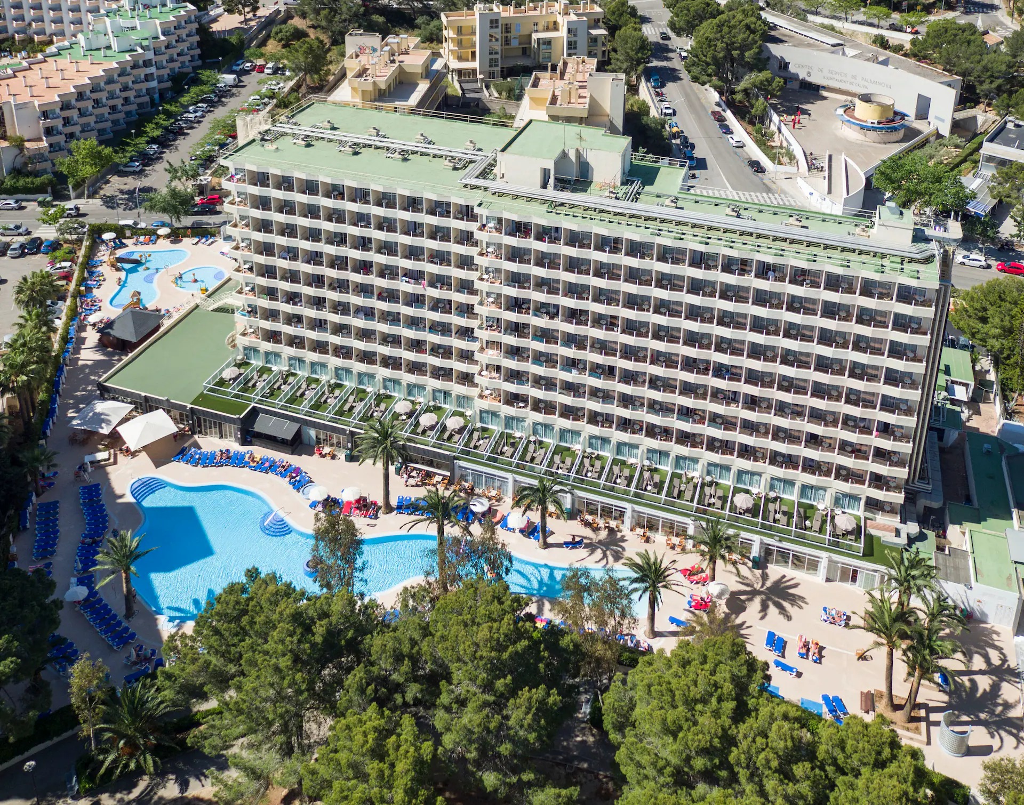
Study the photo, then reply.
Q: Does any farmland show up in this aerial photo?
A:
No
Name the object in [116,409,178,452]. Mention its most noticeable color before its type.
white umbrella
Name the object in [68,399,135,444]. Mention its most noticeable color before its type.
white umbrella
